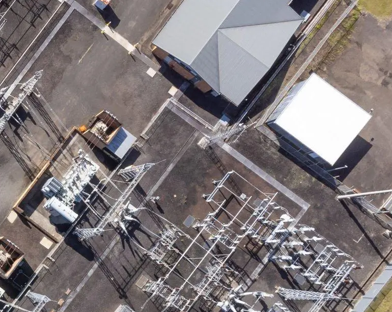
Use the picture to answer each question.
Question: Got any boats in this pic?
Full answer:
No, I find no boat anywhere in the image.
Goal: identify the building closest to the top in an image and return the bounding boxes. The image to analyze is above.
[148,0,304,108]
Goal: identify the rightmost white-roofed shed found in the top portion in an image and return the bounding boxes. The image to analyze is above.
[265,73,372,167]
